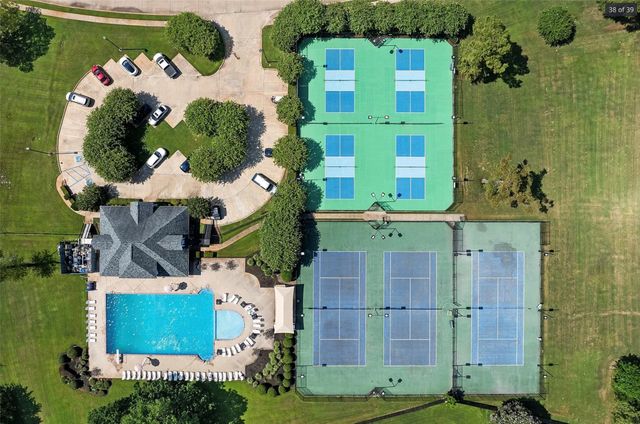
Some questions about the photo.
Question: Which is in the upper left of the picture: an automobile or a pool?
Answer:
automobile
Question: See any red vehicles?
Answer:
Yes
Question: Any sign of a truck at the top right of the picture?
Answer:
No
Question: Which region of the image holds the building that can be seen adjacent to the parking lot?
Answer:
left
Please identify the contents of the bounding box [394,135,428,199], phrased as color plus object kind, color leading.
blue sports court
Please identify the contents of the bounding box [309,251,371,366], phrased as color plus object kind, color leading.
blue tennis court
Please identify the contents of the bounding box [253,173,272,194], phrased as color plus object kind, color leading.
white vehicle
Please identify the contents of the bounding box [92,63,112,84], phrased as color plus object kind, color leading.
red car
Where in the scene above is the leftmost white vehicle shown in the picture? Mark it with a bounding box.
[66,91,91,106]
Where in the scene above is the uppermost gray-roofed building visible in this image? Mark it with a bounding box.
[92,202,190,278]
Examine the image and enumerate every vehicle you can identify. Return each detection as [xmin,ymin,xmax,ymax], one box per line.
[66,91,91,106]
[92,63,112,84]
[120,55,141,75]
[177,159,187,173]
[146,147,167,168]
[148,103,168,124]
[155,53,179,78]
[253,173,272,194]
[266,148,274,157]
[135,103,154,124]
